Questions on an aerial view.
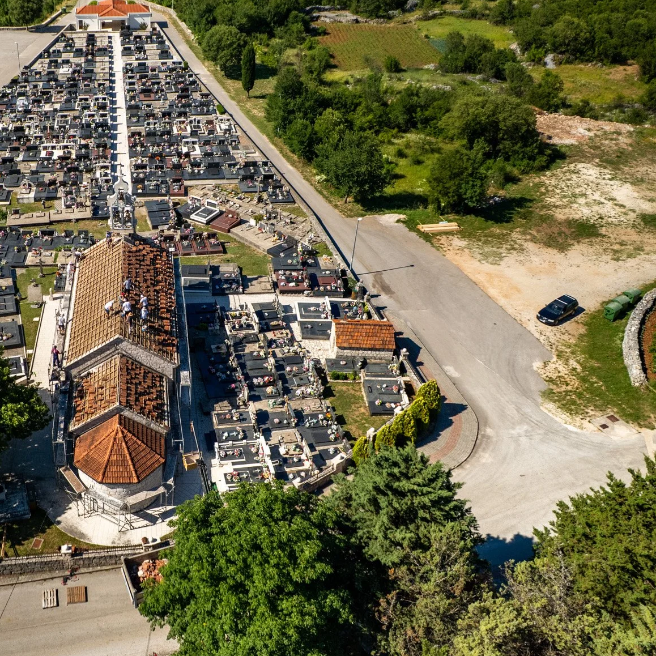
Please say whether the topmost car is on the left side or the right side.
right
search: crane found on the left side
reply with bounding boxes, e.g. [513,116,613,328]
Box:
[190,419,221,499]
